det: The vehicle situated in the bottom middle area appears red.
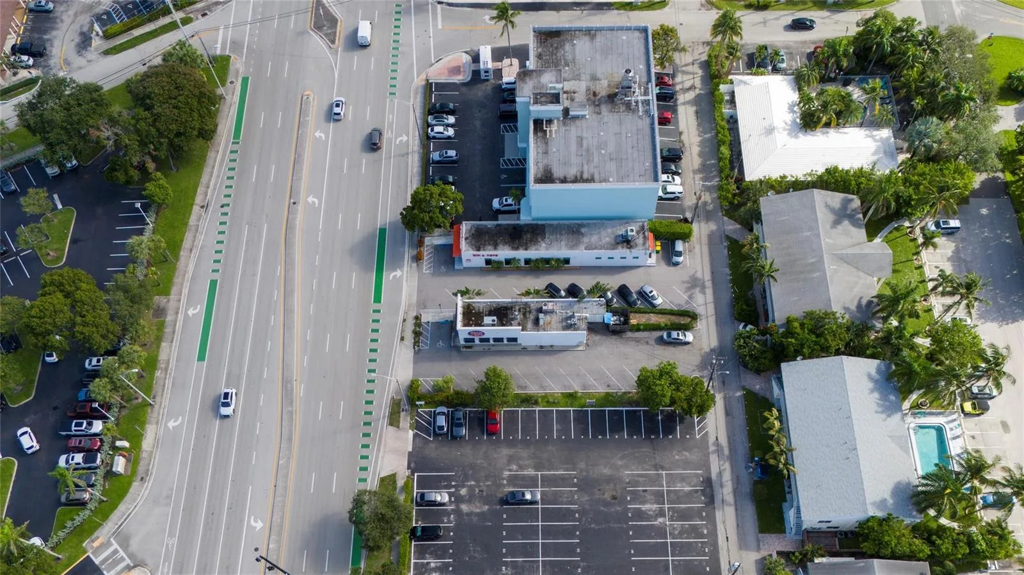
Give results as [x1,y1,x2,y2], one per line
[486,407,499,435]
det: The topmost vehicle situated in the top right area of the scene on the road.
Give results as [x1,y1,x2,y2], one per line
[790,18,816,30]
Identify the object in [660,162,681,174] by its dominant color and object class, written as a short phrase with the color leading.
gray vehicle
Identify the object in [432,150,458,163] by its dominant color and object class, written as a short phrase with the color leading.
blue vehicle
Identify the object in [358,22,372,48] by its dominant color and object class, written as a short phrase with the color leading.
white vehicle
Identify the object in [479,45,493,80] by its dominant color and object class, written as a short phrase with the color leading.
white vehicle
